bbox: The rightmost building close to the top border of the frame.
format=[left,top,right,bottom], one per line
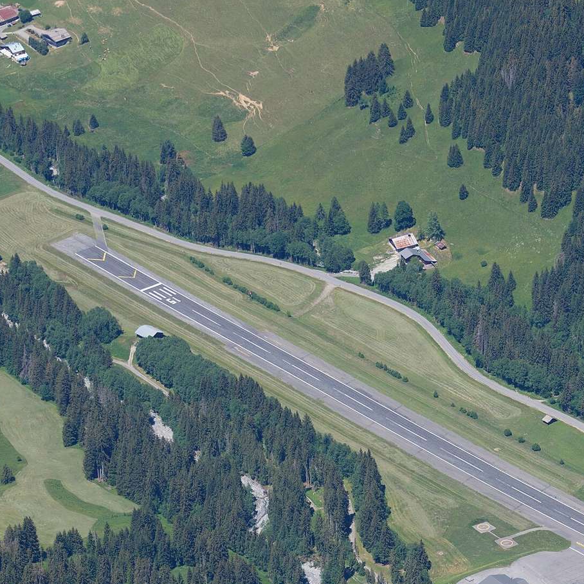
[46,28,72,48]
